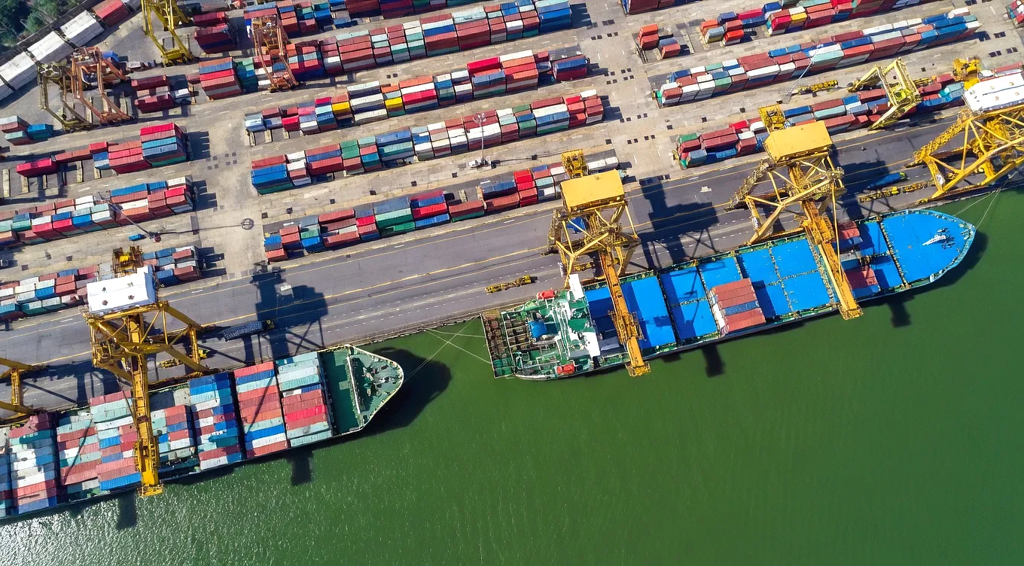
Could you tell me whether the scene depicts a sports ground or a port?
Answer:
port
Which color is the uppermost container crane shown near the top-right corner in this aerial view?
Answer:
yellow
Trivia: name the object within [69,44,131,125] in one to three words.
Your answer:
container crane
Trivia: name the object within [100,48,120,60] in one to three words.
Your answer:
vehicle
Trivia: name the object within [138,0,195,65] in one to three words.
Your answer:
container crane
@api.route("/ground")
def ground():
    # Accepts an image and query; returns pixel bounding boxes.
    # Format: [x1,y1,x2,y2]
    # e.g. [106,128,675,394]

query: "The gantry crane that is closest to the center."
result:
[543,149,652,379]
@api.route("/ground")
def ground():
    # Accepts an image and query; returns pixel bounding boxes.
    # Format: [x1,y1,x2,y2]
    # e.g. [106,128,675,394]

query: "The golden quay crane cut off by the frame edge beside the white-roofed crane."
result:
[0,362,41,420]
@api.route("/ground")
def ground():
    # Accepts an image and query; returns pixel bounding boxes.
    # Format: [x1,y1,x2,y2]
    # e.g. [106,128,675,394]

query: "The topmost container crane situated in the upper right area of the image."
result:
[849,55,920,131]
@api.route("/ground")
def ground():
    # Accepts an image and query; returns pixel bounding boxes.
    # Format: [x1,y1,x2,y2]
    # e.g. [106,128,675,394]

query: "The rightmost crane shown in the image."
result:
[906,61,1024,202]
